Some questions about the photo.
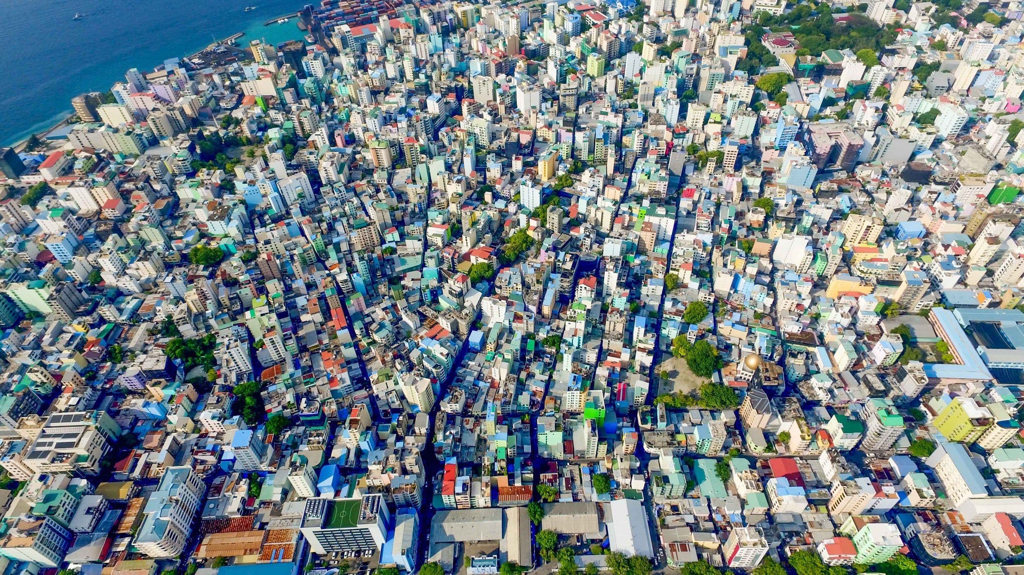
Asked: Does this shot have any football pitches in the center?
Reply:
No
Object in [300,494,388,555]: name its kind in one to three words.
building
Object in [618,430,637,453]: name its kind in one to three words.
building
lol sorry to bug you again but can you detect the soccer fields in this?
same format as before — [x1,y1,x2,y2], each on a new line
[323,498,362,526]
